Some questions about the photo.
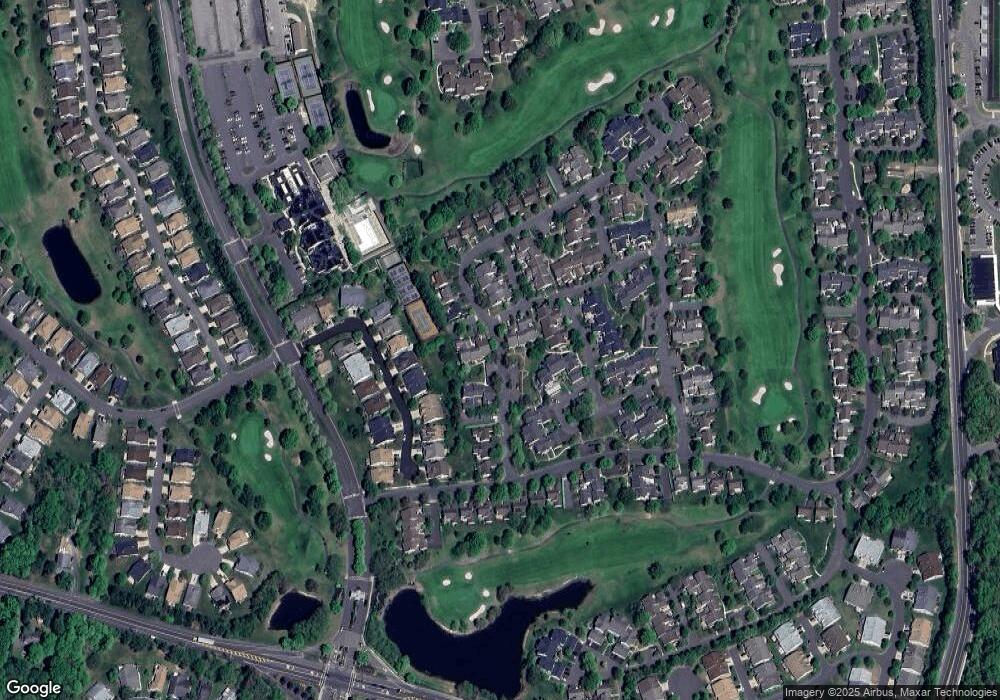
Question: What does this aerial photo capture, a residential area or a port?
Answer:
residential area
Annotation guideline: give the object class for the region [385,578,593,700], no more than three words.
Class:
pond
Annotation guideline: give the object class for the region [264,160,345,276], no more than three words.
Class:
building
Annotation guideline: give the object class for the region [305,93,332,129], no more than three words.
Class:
tennis court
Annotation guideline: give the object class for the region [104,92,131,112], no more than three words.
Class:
house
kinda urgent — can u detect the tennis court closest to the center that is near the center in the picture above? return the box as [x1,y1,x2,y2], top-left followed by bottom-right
[404,300,438,341]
